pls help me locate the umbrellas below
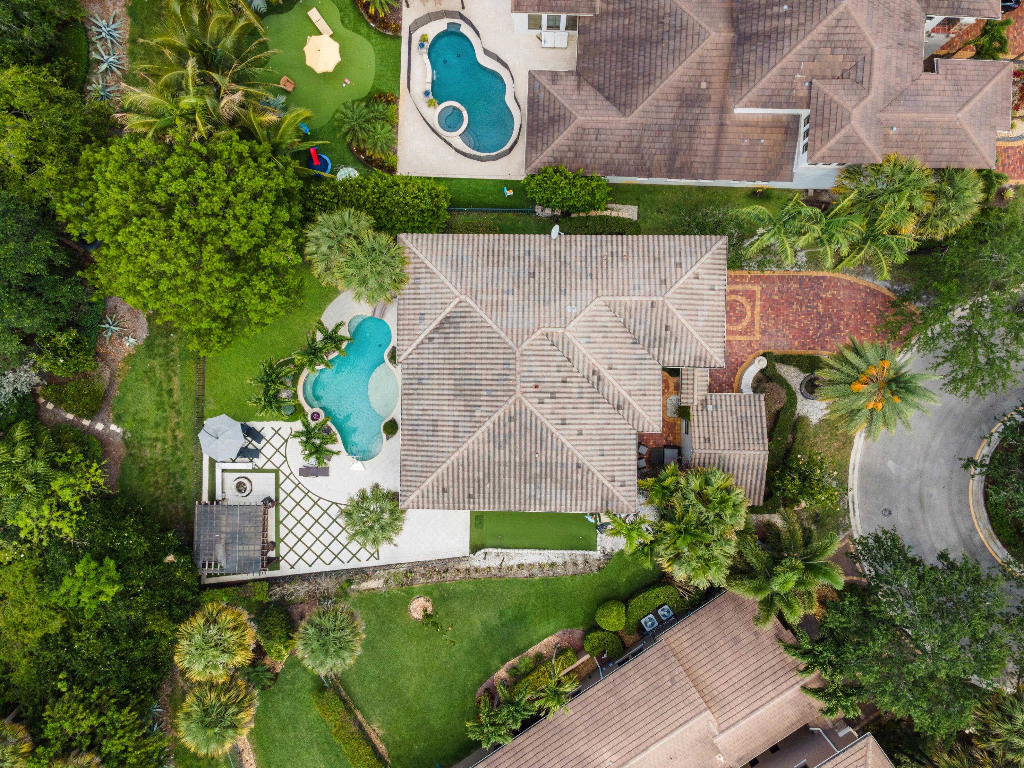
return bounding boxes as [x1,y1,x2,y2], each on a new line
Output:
[197,412,247,461]
[305,37,344,75]
[338,166,360,189]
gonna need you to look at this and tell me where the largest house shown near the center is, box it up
[396,232,729,514]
